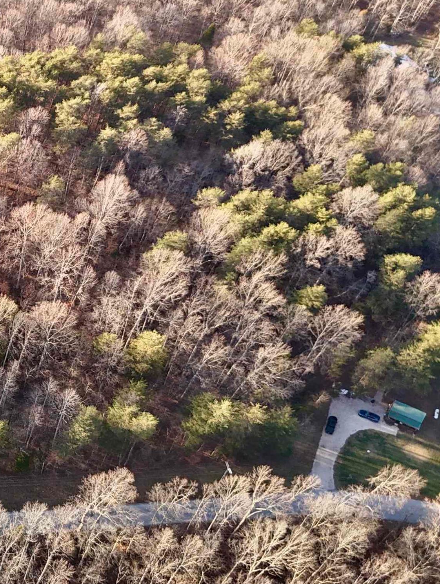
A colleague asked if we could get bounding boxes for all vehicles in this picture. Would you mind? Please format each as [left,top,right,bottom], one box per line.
[324,418,337,434]
[357,412,380,423]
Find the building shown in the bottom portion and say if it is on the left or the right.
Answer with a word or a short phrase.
right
